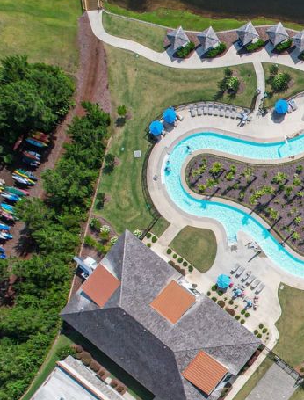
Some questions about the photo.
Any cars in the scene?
No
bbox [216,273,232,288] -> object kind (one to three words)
umbrella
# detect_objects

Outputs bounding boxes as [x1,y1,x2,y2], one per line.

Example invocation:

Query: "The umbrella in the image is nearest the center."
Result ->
[148,120,164,135]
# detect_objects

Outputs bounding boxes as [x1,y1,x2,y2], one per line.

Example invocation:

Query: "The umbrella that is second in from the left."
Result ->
[163,108,177,123]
